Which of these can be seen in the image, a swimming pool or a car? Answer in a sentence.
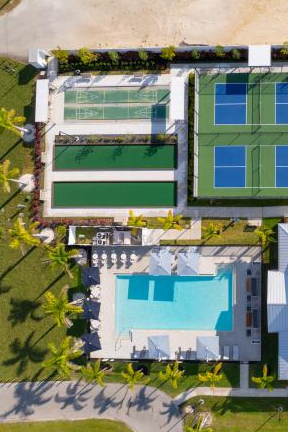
The image shows a swimming pool.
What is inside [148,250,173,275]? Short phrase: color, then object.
white umbrella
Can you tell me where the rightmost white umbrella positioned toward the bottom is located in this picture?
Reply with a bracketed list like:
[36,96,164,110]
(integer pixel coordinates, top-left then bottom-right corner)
[196,336,219,359]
